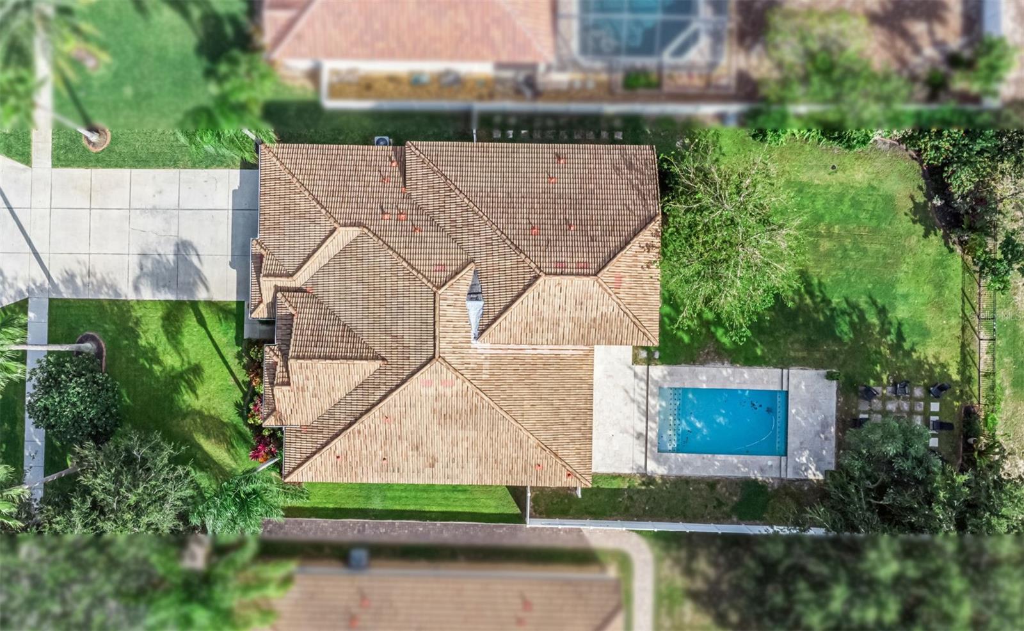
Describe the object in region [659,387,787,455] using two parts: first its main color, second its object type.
blue swimming pool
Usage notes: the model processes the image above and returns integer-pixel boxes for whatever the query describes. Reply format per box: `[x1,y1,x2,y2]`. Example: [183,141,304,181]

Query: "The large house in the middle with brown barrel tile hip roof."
[248,139,663,496]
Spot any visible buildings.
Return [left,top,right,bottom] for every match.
[265,0,557,71]
[271,559,623,631]
[248,139,663,496]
